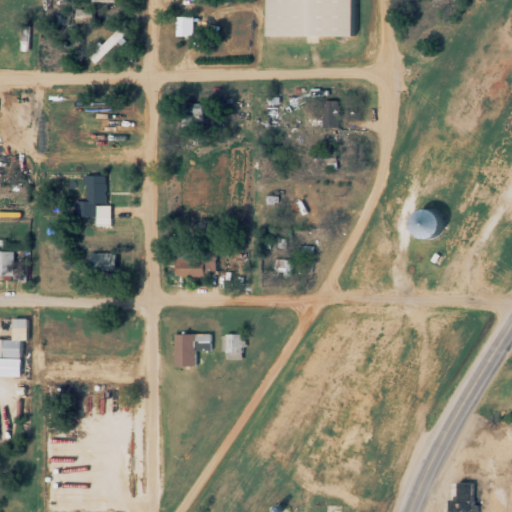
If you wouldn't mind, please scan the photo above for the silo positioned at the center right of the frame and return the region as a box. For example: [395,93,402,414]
[408,208,445,240]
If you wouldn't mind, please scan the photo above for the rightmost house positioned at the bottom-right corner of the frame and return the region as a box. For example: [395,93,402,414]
[448,482,483,512]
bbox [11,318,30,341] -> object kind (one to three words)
barn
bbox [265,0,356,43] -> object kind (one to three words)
building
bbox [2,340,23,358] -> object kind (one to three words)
barn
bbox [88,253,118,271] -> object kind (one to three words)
house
